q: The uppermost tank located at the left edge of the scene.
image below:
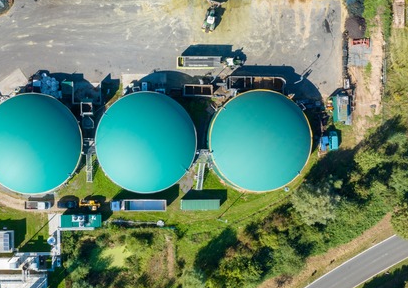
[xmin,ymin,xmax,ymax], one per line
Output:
[0,91,84,196]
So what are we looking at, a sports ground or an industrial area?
industrial area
